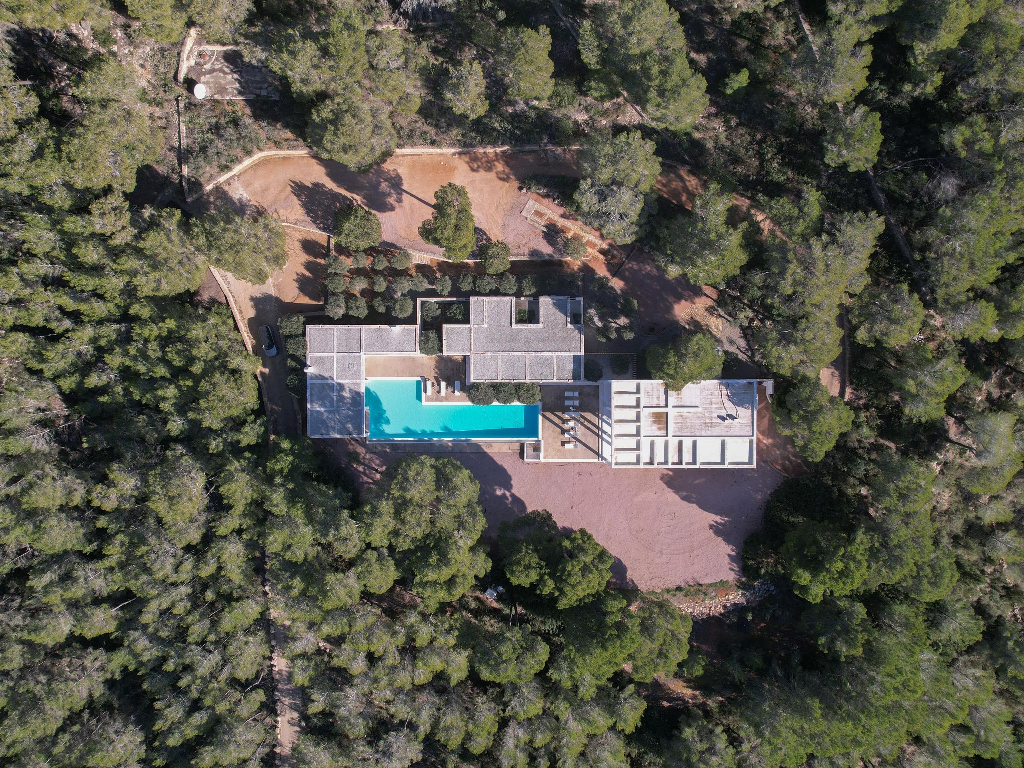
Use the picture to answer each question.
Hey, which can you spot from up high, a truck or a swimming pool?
swimming pool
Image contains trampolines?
No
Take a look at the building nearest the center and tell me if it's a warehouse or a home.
home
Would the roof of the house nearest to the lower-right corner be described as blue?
No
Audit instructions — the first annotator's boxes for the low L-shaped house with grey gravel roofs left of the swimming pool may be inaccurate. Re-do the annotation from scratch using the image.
[303,324,422,438]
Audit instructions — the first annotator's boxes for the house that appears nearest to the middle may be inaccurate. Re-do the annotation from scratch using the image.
[442,296,584,385]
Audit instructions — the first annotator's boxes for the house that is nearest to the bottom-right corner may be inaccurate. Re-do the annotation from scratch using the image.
[603,380,758,469]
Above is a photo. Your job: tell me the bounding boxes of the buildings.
[442,296,584,385]
[603,380,758,469]
[303,324,422,438]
